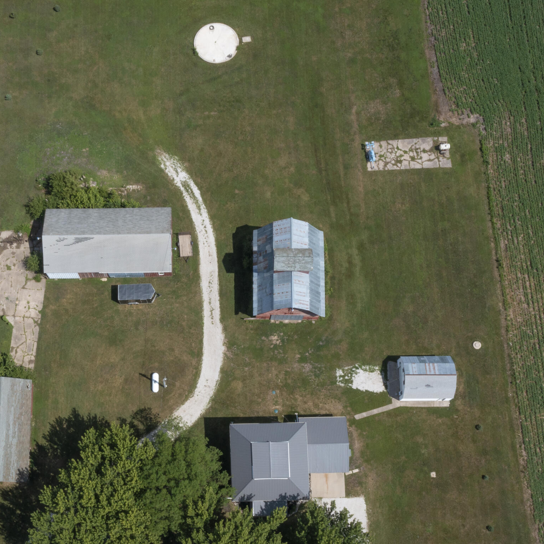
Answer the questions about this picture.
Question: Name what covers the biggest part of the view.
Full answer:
The largest share of the image is taken up by grass.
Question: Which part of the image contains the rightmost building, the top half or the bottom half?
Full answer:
The bottom half of the photo is where the rightmost building is.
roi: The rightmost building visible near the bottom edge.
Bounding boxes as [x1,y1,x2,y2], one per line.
[229,408,349,517]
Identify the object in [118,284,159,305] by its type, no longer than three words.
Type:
trailer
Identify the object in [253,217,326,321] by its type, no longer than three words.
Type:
barn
